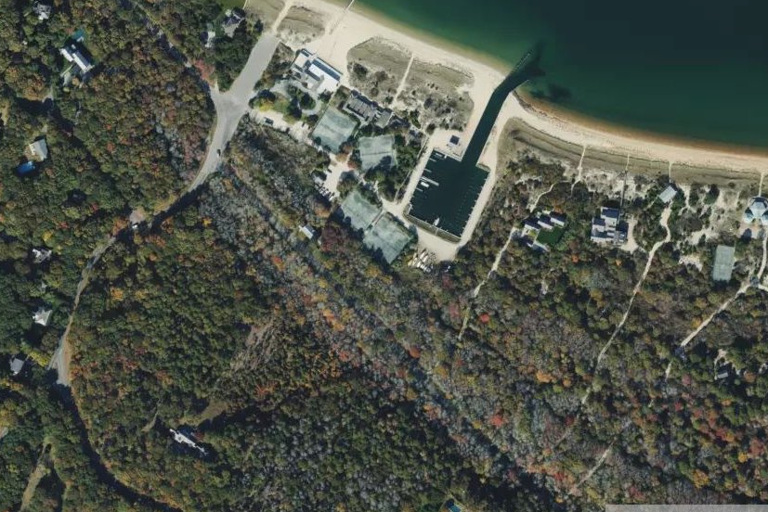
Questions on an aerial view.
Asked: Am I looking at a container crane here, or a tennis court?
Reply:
tennis court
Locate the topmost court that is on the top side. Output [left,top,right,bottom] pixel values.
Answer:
[312,108,356,151]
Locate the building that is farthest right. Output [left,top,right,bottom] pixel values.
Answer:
[742,198,768,224]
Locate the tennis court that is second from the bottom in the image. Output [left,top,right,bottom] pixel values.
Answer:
[364,216,411,263]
